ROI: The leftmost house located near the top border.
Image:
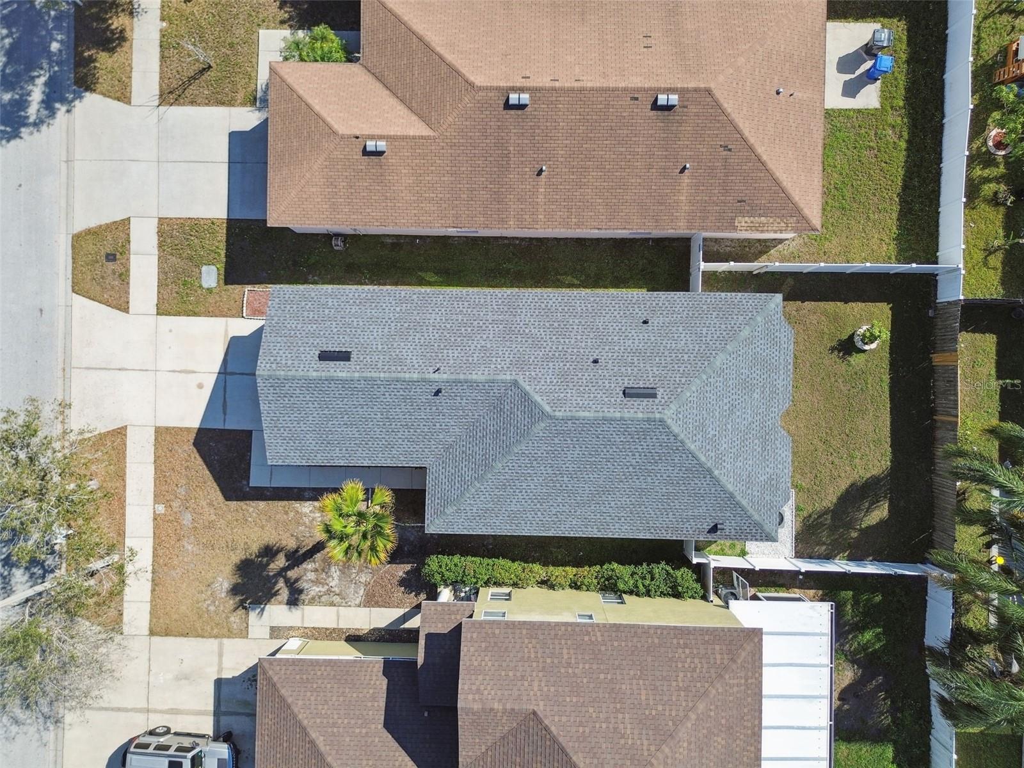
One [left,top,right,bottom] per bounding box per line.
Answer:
[267,0,824,239]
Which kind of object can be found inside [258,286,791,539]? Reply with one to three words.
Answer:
house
